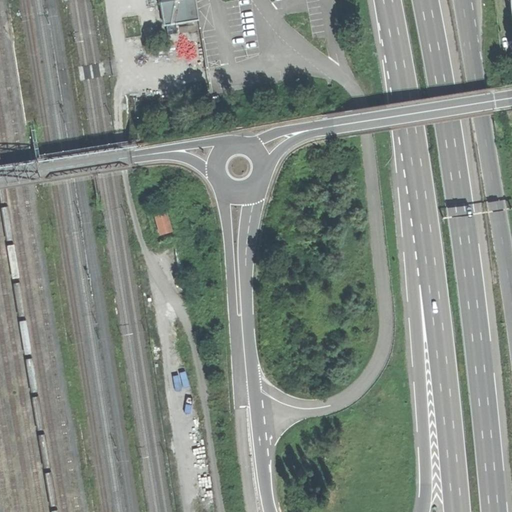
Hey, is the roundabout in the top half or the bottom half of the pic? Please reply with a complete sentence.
You can find the roundabout in the top half.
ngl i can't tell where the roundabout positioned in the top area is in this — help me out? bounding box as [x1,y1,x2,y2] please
[206,134,278,206]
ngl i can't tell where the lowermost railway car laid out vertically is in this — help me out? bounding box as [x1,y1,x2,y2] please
[45,471,57,509]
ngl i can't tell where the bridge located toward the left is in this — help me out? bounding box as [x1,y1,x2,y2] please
[0,140,138,188]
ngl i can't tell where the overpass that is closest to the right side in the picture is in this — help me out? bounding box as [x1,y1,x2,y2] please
[351,88,494,135]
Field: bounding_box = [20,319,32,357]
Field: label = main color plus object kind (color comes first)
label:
white rail car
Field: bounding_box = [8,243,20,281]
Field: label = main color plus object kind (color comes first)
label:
white rail car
